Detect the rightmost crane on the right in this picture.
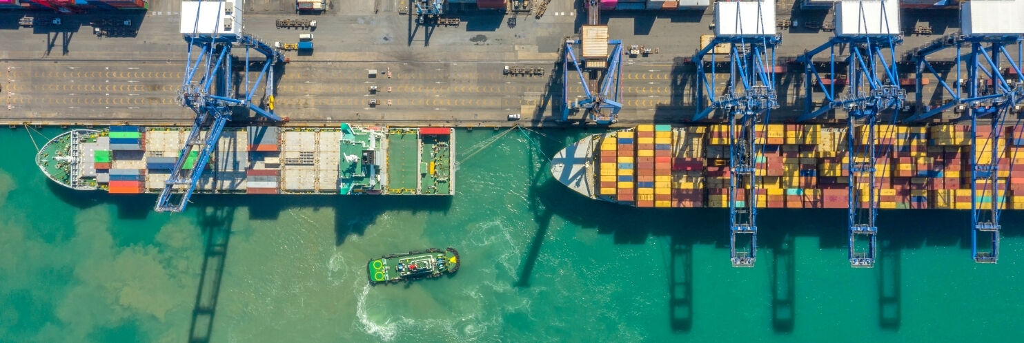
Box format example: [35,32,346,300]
[888,0,1024,266]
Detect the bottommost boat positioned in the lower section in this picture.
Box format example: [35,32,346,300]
[367,249,458,286]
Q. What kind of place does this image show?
port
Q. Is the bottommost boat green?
Yes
